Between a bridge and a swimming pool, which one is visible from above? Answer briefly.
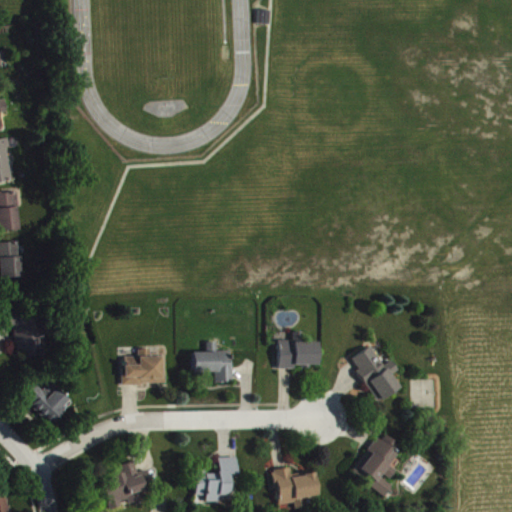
swimming pool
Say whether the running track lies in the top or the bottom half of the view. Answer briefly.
top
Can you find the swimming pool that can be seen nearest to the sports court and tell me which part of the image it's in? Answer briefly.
bottom right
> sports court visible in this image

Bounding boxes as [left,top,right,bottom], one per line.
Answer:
[410,380,434,408]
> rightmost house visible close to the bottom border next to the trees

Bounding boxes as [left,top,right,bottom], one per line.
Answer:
[360,435,398,497]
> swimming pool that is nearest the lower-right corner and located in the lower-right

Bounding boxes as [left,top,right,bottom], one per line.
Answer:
[400,455,433,494]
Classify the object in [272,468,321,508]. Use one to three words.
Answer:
house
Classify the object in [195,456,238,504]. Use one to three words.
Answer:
house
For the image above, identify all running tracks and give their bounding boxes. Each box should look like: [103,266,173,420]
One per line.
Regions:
[72,0,252,153]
